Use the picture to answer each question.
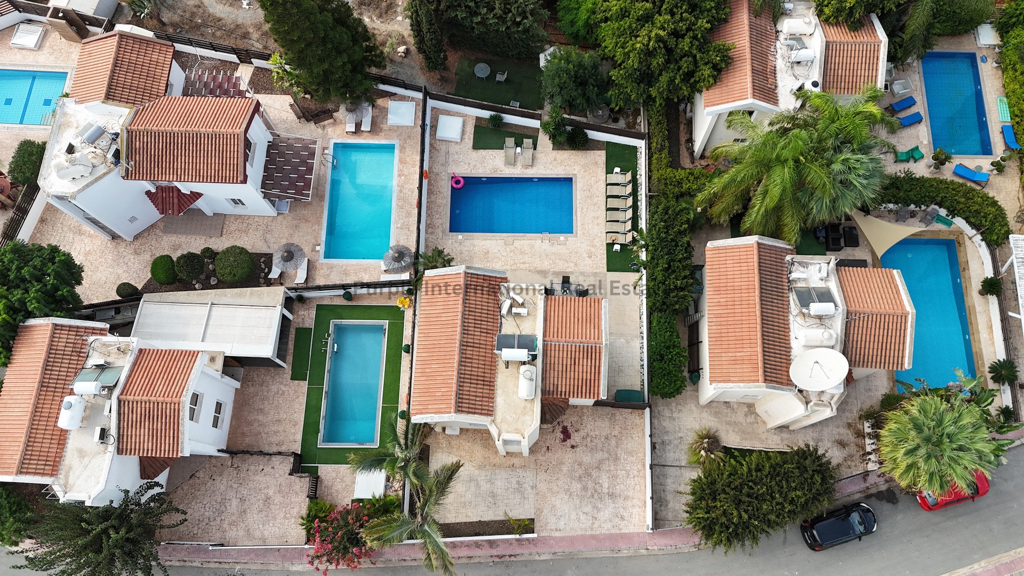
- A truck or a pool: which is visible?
pool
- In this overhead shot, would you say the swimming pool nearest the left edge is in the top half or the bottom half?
top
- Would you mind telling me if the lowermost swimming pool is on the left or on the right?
left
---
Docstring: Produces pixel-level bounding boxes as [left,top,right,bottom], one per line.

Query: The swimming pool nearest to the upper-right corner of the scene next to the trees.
[919,48,1000,159]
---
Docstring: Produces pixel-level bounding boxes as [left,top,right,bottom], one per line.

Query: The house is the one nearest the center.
[409,262,614,457]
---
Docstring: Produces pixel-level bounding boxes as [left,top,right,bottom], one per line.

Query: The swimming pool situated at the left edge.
[0,66,73,129]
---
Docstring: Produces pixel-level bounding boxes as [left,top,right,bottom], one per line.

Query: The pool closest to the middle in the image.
[445,173,576,243]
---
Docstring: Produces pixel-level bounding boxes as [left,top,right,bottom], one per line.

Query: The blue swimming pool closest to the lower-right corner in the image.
[869,232,991,404]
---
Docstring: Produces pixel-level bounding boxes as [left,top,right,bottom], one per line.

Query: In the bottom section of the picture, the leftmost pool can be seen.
[320,321,386,446]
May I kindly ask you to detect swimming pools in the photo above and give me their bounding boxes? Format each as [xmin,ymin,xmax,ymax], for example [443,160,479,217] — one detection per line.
[320,321,386,446]
[0,66,73,129]
[445,173,576,243]
[919,48,1000,159]
[315,139,402,263]
[869,232,991,404]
